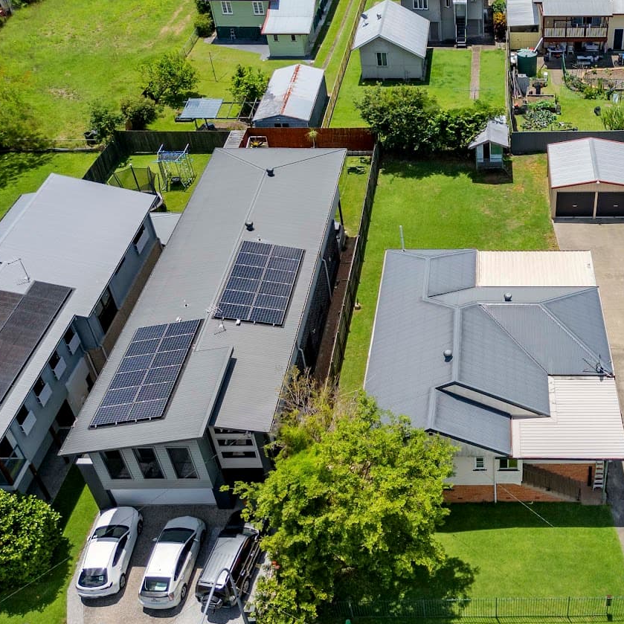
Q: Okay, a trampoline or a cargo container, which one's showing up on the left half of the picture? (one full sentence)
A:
The one visible on the left half of the picture is a trampoline.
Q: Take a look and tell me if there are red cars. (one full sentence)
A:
No, the picture doesn't show any red car.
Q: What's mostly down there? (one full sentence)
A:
The largest share of the image is taken up by buildings.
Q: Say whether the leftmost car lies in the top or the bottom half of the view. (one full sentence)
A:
The bottom half of the photo is where the leftmost car is.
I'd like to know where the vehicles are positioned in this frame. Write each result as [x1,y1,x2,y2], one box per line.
[199,501,275,602]
[73,504,149,596]
[137,515,209,608]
